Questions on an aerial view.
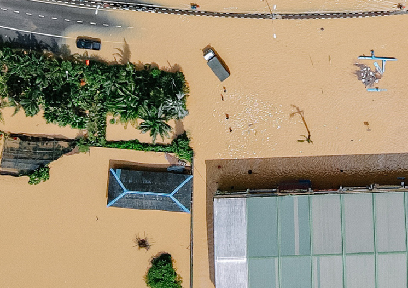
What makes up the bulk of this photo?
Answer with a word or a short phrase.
water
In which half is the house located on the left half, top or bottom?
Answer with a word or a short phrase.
bottom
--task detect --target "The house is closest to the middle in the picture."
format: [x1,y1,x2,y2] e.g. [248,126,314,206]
[106,167,193,213]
